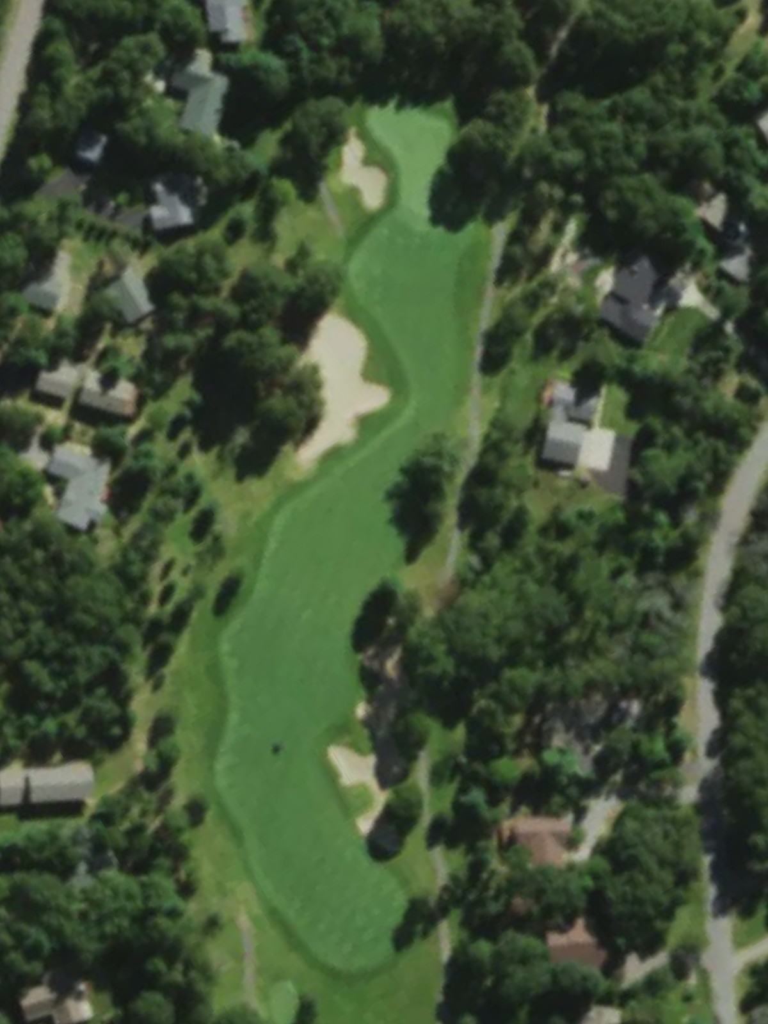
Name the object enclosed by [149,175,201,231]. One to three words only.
house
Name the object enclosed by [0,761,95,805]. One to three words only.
house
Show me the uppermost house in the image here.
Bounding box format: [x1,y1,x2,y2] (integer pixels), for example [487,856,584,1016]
[207,0,248,43]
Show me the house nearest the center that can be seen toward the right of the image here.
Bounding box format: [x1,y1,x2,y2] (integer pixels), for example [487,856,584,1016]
[543,383,605,463]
